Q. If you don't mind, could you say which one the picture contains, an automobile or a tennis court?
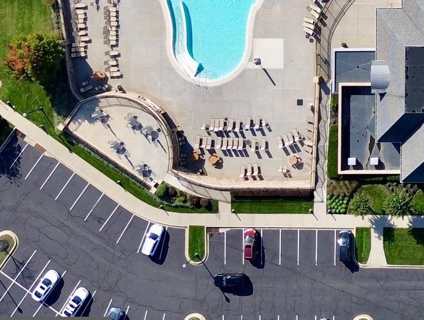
automobile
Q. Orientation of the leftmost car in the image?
diagonally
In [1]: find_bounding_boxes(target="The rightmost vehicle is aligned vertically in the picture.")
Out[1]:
[337,229,352,263]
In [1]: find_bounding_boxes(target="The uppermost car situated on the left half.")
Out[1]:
[140,222,164,256]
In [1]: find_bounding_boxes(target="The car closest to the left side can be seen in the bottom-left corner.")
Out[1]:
[33,269,61,302]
